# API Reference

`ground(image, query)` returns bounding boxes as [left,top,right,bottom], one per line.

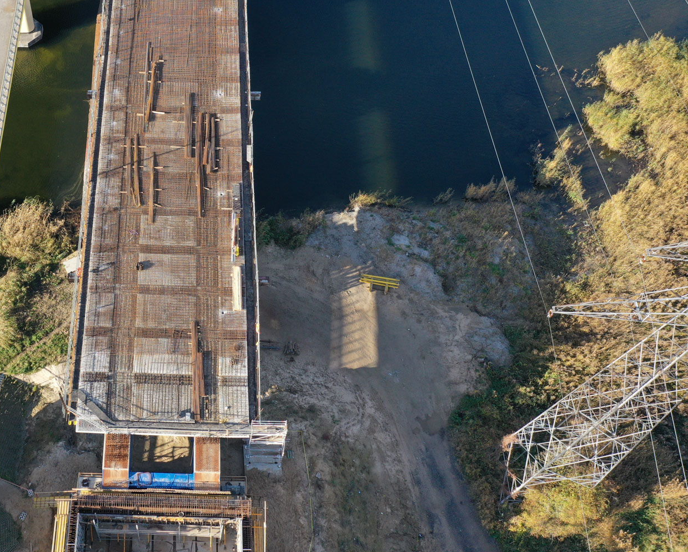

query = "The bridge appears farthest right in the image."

[60,0,262,499]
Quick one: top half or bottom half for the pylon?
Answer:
bottom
